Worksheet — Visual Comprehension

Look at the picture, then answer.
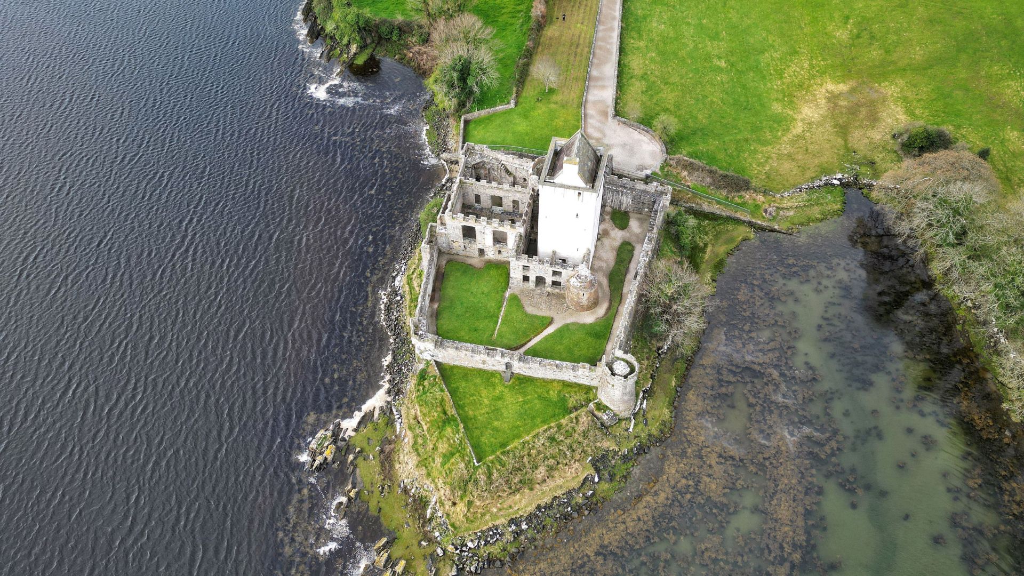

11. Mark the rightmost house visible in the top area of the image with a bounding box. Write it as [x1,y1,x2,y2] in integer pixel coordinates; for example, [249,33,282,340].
[537,129,608,260]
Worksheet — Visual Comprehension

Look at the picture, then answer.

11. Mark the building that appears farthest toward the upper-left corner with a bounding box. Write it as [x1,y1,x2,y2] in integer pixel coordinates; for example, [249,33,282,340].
[433,138,545,273]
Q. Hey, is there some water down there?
Yes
